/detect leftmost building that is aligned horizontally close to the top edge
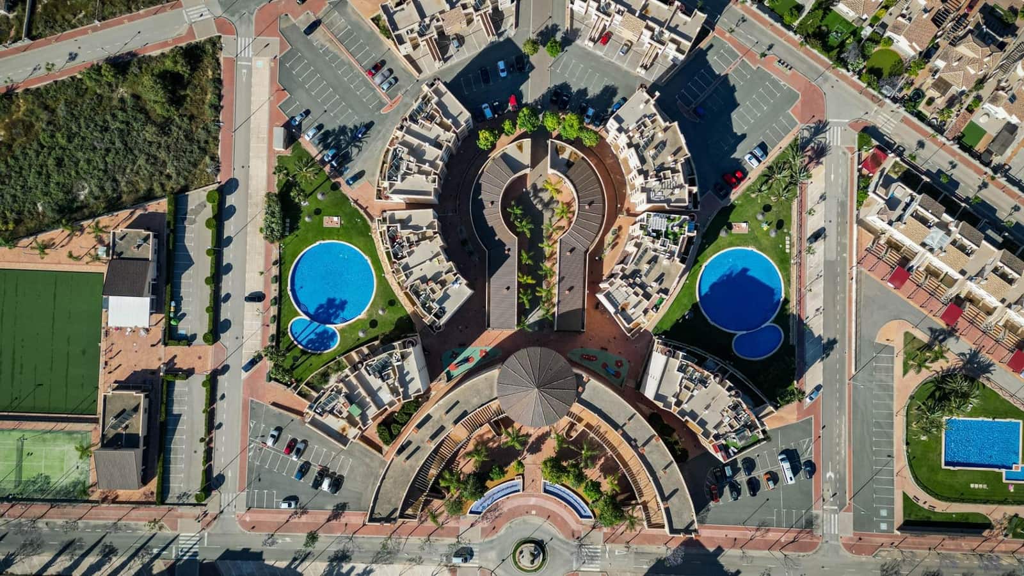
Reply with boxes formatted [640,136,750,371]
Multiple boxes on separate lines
[379,0,514,63]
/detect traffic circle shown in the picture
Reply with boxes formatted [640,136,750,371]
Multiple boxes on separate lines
[490,518,570,576]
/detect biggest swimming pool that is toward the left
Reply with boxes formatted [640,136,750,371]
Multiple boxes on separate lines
[287,240,376,327]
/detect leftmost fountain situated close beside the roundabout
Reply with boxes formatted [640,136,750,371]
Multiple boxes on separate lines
[468,481,522,515]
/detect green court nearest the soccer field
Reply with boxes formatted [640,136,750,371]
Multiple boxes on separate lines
[0,430,91,500]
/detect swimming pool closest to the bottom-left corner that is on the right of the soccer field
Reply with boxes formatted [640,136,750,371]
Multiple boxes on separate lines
[287,317,339,354]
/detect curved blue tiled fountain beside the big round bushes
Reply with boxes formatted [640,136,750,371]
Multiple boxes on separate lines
[542,479,591,518]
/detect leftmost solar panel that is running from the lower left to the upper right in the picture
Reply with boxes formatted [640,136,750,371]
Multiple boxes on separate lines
[110,411,138,438]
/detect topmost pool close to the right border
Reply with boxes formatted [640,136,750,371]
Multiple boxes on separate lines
[943,418,1024,471]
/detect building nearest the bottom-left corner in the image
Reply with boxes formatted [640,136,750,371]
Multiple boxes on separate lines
[93,389,153,489]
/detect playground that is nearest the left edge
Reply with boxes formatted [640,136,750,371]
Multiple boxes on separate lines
[439,346,502,382]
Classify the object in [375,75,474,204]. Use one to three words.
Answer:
building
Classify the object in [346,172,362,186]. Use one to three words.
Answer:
car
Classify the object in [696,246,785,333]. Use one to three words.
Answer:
swimming pool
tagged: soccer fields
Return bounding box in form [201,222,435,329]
[0,269,104,417]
